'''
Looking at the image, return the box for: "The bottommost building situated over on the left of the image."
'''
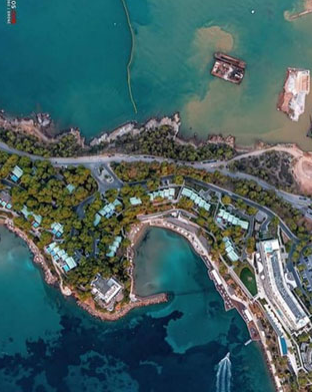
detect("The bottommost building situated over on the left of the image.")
[90,273,124,311]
